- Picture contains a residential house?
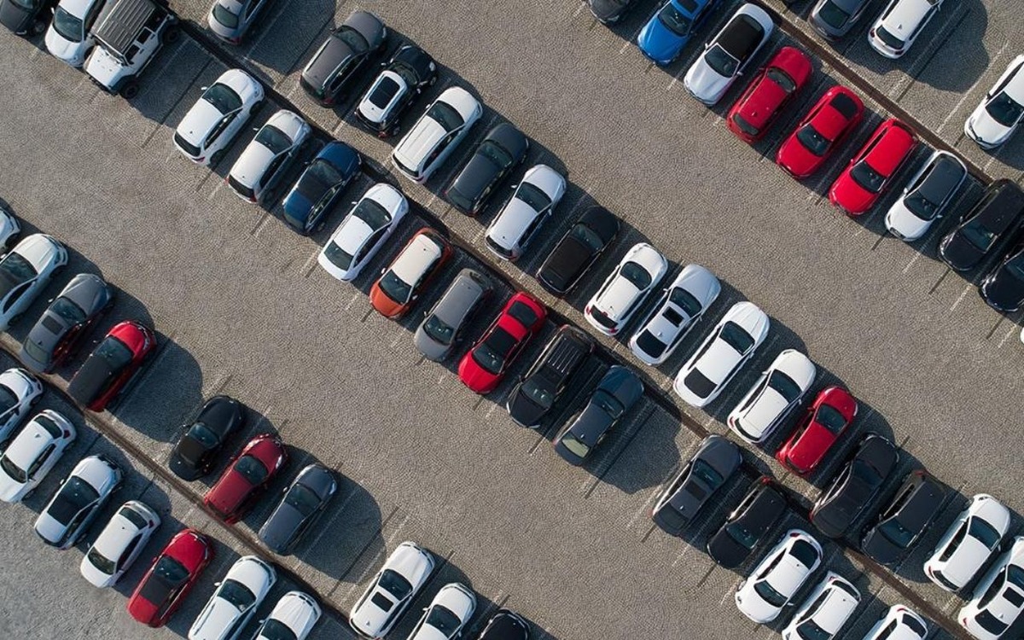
No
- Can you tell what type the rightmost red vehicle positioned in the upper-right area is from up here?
automobile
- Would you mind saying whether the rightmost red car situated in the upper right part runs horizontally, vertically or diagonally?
diagonally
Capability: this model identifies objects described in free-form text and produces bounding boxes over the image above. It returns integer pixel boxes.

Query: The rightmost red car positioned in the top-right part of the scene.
[831,116,921,218]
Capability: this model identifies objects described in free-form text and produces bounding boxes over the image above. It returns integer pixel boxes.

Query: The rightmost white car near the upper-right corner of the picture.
[967,53,1024,152]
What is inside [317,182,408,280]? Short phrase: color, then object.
white car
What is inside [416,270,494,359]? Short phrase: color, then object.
gray car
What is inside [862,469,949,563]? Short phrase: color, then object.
black car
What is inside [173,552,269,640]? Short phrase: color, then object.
white car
